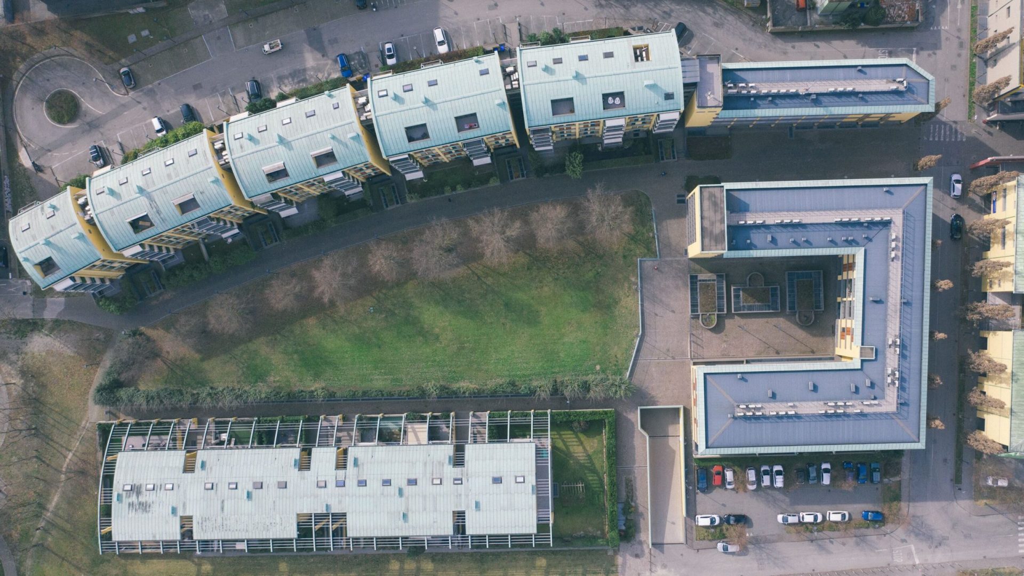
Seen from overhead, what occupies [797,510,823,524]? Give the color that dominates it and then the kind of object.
white car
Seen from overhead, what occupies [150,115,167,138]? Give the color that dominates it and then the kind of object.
white car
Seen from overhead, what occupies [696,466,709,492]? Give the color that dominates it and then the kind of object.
blue vehicle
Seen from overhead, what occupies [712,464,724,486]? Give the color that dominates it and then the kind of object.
red vehicle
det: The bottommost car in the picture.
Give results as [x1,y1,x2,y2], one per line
[716,541,740,554]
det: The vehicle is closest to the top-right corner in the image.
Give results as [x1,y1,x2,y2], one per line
[948,173,964,199]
